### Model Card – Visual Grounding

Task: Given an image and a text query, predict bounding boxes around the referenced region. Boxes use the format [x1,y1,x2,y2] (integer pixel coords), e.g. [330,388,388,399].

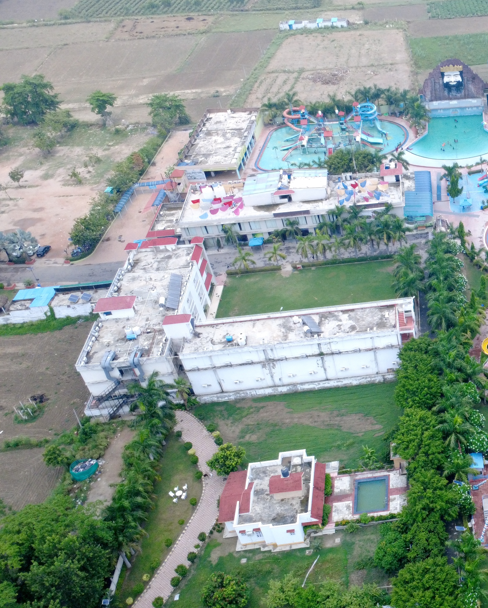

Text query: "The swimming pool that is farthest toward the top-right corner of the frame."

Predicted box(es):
[400,112,488,168]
